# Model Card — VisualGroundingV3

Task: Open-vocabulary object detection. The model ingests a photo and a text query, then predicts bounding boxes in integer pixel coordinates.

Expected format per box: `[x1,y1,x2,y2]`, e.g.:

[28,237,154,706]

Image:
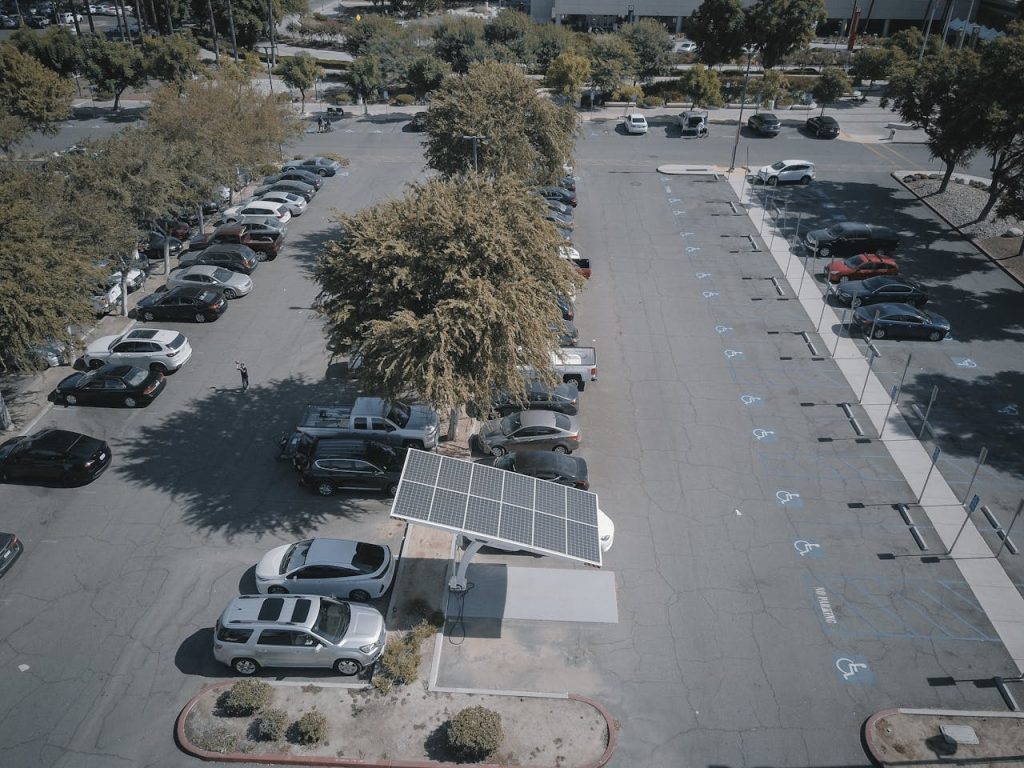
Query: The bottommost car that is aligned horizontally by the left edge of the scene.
[0,432,110,485]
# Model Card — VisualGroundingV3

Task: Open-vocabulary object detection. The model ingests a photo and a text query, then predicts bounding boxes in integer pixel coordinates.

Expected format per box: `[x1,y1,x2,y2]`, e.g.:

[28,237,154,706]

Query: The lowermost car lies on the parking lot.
[212,591,387,677]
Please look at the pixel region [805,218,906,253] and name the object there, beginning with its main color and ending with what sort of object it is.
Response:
black truck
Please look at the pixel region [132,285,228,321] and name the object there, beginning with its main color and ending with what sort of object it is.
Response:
black car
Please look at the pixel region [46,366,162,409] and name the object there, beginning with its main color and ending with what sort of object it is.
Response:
black car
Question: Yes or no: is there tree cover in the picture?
Yes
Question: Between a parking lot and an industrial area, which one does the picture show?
parking lot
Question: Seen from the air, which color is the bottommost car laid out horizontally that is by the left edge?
black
